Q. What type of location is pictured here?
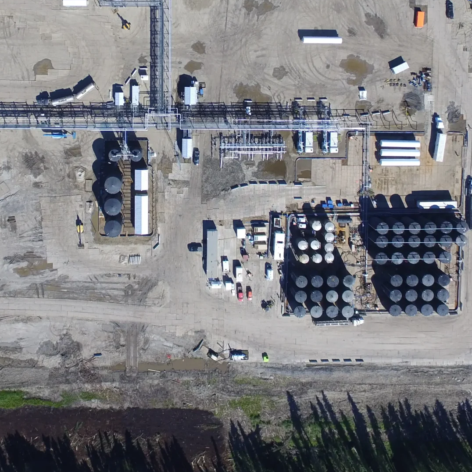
industrial area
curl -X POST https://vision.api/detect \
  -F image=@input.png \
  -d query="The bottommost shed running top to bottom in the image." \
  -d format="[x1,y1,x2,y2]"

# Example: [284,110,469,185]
[134,192,148,236]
